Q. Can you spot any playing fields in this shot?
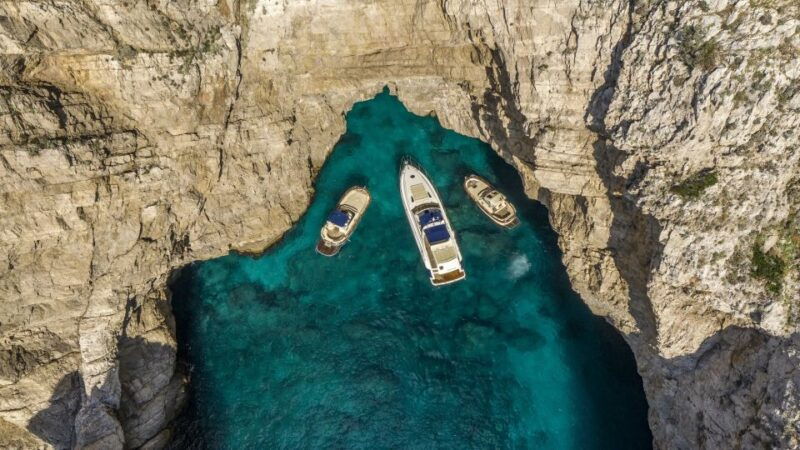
No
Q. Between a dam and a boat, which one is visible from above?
boat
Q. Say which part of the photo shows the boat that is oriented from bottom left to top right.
center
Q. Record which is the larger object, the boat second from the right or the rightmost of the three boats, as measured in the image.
the boat second from the right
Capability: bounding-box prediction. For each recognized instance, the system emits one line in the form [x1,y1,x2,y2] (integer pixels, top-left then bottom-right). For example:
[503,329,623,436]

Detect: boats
[314,185,370,259]
[463,174,520,230]
[402,156,465,290]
